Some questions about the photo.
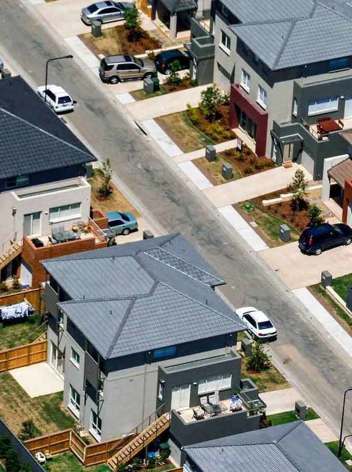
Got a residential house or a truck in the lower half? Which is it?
residential house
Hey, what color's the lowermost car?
white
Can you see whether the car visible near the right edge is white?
No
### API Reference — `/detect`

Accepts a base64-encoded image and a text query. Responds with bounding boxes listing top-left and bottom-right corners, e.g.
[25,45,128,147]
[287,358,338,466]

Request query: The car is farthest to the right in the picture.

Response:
[299,225,352,254]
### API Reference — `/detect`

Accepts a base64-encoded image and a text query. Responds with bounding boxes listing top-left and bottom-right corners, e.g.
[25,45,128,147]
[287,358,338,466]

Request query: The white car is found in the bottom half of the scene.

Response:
[236,307,277,344]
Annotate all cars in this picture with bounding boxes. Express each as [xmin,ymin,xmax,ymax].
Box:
[236,307,277,344]
[80,1,129,26]
[299,225,352,254]
[85,210,143,236]
[151,51,199,76]
[100,55,154,84]
[37,85,75,117]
